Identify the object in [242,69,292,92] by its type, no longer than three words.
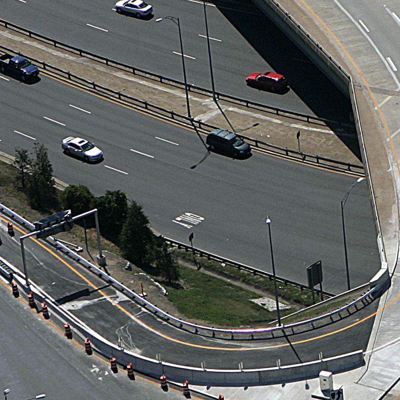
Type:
car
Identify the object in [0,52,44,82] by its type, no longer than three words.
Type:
truck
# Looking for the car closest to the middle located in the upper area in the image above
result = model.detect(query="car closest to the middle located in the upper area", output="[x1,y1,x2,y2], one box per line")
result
[201,123,255,156]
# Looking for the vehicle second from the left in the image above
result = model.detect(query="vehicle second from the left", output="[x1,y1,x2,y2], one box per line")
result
[59,135,106,162]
